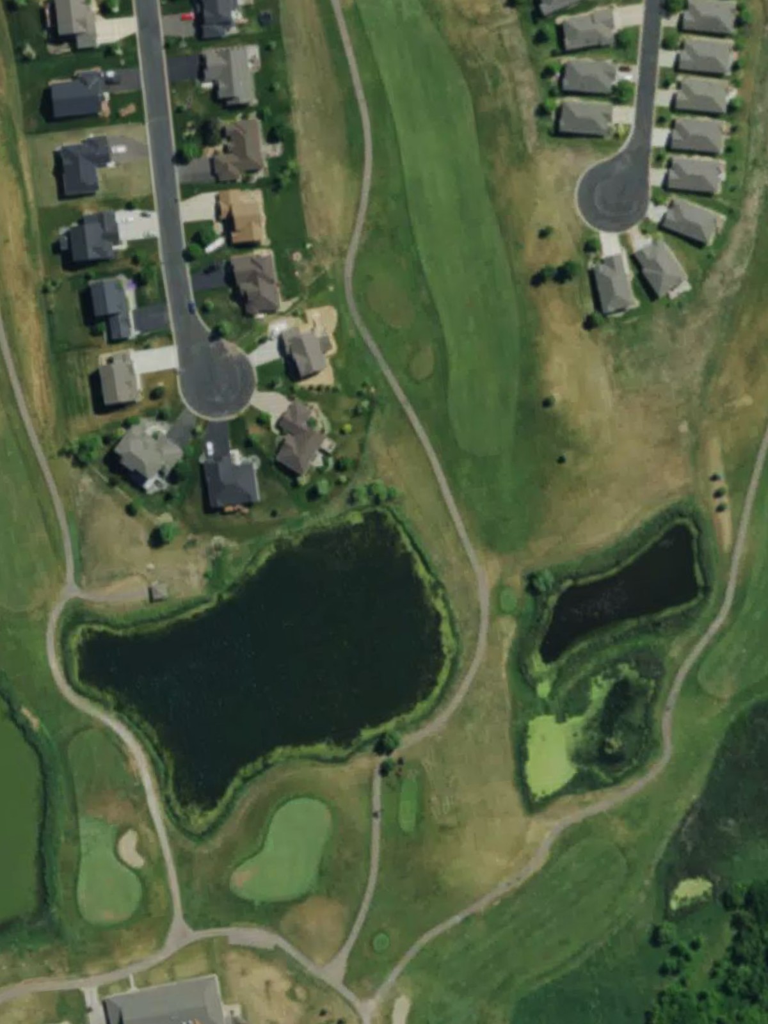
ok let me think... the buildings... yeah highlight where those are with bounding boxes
[669,79,729,115]
[558,102,615,135]
[49,70,104,117]
[200,0,247,37]
[87,279,131,341]
[45,0,97,48]
[112,417,185,496]
[61,134,112,196]
[666,119,725,153]
[226,253,280,314]
[631,237,688,302]
[201,47,255,104]
[658,197,723,246]
[561,61,617,93]
[677,0,736,33]
[276,325,333,379]
[273,395,335,480]
[98,347,138,407]
[101,976,226,1024]
[204,452,258,507]
[209,119,264,183]
[662,158,720,192]
[591,250,633,315]
[561,11,618,51]
[58,210,119,262]
[214,188,264,245]
[673,39,733,75]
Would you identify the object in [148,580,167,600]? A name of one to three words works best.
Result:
gazebo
